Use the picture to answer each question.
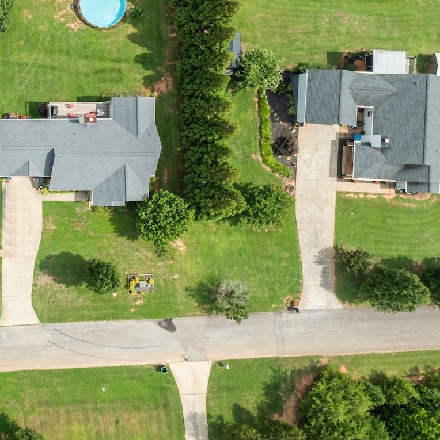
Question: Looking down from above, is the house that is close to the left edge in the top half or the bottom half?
top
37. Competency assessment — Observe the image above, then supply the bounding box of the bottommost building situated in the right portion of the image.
[295,69,440,195]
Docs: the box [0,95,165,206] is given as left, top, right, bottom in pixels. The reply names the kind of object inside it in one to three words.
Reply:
house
